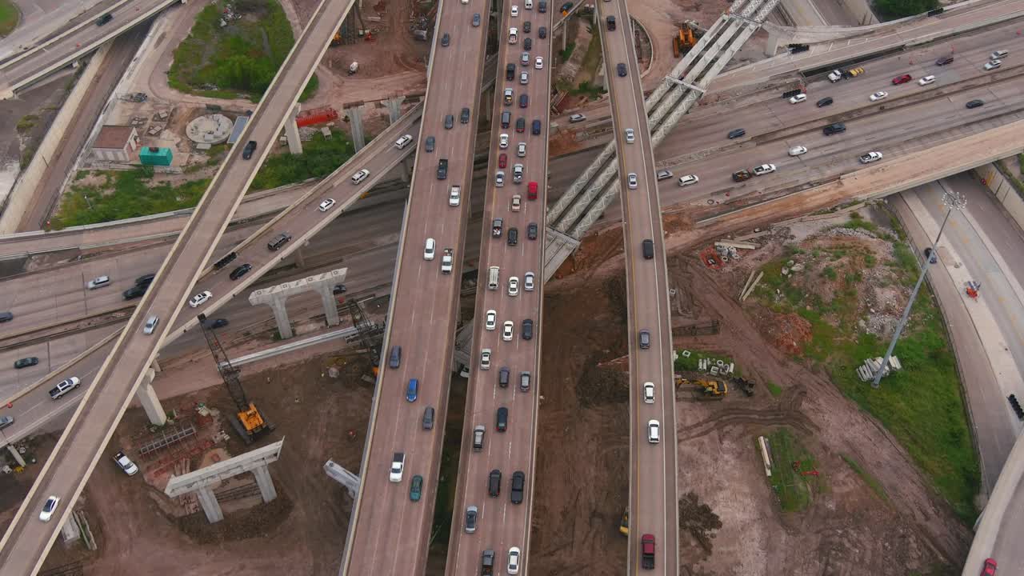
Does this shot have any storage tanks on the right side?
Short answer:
No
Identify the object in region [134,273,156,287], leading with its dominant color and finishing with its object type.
black car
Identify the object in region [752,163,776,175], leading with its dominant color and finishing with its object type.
white vehicle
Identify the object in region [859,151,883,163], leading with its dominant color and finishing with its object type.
white vehicle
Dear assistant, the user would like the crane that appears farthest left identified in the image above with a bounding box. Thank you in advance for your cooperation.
[197,313,267,442]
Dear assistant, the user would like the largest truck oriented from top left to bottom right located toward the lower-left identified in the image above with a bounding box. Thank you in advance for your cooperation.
[113,450,138,475]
